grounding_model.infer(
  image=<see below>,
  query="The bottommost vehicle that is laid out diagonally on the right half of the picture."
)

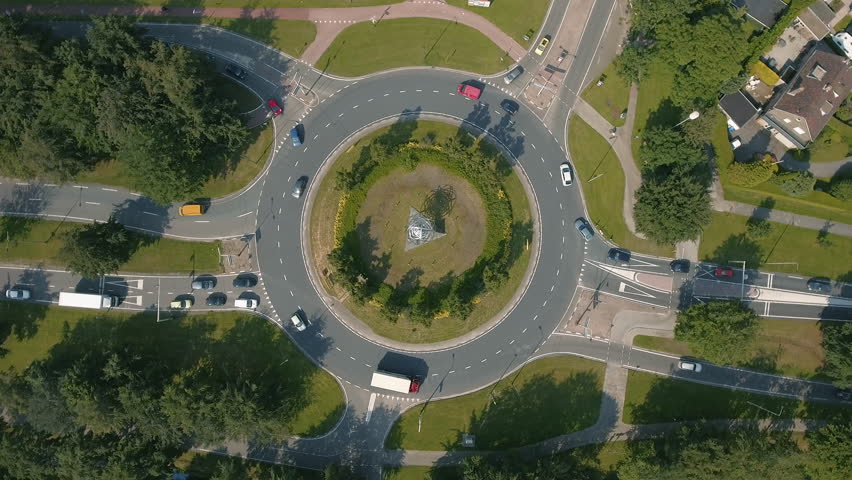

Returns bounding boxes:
[573,218,594,240]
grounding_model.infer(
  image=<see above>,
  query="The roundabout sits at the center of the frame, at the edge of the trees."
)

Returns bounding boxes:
[257,72,582,396]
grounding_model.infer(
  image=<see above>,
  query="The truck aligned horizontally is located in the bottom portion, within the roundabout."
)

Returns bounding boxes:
[369,370,422,396]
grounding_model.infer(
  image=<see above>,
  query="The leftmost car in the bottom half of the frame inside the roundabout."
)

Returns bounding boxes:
[289,310,308,331]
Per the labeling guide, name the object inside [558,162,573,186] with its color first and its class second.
white car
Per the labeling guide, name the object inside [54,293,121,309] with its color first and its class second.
white vehicle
